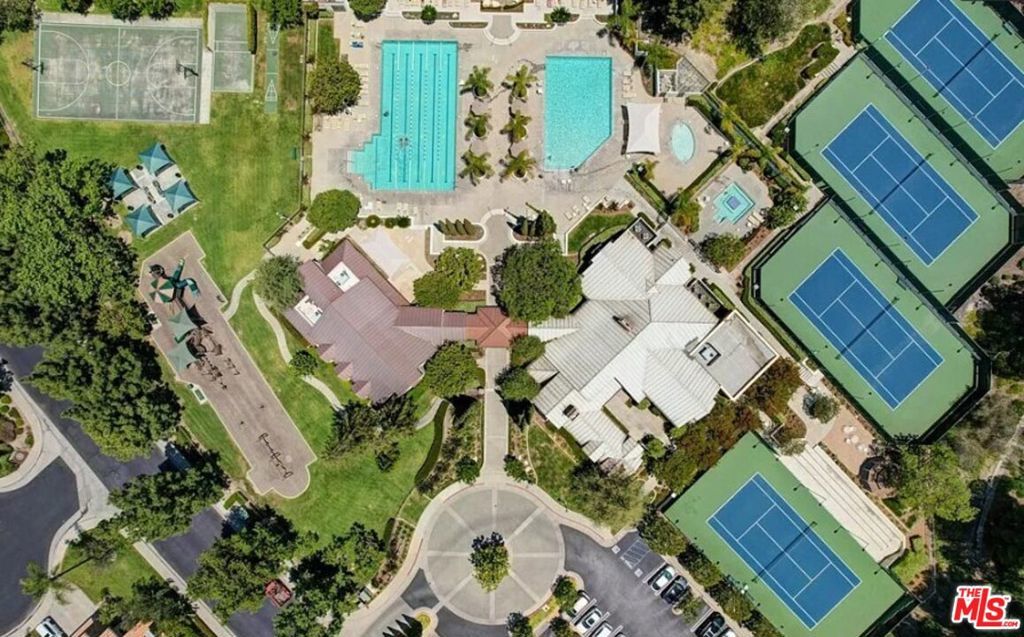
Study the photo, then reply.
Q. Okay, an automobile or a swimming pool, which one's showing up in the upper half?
swimming pool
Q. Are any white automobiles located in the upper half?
No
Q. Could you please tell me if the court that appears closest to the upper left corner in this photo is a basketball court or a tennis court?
basketball court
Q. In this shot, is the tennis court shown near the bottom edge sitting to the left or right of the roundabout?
right of it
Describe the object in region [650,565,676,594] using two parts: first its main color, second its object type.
white car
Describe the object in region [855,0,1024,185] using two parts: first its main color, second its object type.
blue tennis court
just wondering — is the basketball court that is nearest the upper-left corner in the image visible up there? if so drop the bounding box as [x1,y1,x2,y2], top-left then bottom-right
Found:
[35,23,201,123]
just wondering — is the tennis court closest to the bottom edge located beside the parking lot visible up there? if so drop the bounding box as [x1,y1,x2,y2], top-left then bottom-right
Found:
[671,438,905,637]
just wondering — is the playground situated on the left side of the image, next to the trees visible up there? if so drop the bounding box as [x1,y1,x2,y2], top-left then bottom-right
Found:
[136,231,317,499]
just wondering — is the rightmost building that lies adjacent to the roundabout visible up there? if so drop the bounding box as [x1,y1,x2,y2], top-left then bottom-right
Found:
[528,230,720,476]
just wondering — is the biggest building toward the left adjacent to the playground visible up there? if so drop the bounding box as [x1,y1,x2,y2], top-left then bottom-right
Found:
[282,238,436,405]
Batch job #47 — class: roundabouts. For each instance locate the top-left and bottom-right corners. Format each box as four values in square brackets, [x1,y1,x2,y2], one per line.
[422,483,566,625]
